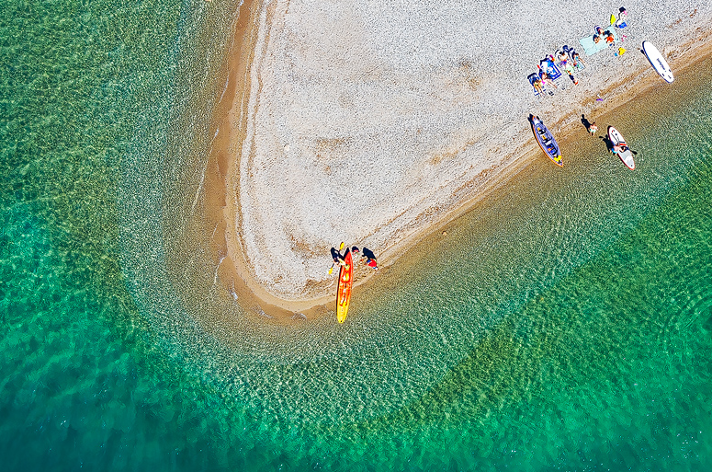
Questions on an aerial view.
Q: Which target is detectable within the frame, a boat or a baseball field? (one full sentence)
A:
There is a boat in the scene.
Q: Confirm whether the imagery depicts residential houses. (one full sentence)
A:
No, the photo shows no residential house.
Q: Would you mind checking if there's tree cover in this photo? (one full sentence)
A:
No, tree cover can't be seen anywhere here.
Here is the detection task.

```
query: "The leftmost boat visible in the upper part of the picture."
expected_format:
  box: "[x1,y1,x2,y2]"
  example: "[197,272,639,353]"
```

[534,116,564,166]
